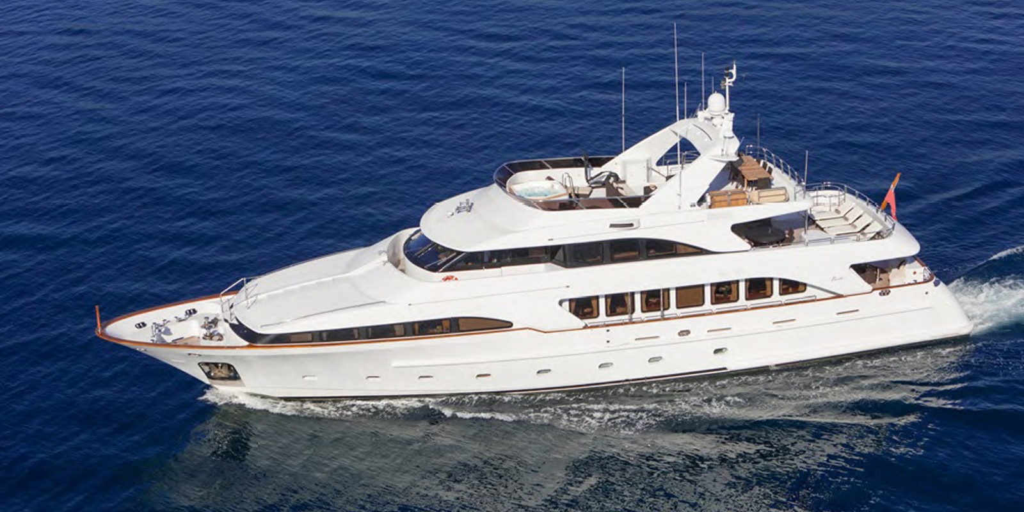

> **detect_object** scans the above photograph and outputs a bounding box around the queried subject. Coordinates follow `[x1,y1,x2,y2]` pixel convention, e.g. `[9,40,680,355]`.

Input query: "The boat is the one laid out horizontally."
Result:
[95,24,968,397]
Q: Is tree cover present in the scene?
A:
No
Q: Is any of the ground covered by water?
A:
Yes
